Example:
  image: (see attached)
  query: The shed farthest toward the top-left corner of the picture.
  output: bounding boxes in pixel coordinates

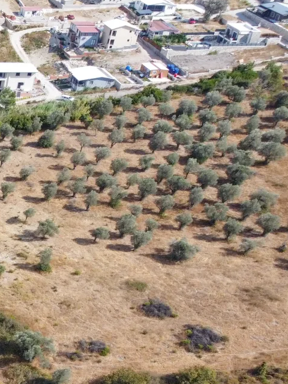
[15,3,54,17]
